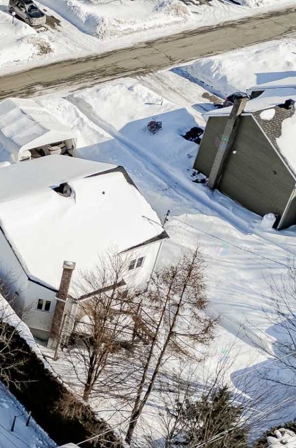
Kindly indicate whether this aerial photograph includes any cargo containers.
No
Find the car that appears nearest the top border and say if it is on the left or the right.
left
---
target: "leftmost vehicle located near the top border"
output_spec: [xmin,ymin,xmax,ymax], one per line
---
[13,0,57,29]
